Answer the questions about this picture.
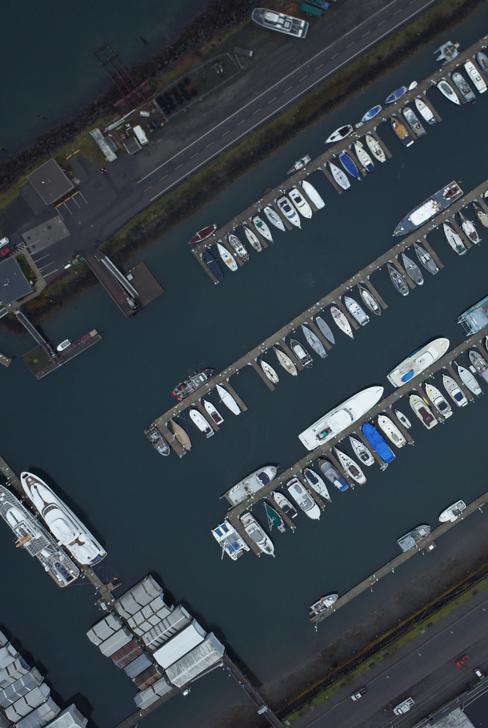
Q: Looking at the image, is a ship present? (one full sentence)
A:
Yes, looking at the shot, I can spot a ship.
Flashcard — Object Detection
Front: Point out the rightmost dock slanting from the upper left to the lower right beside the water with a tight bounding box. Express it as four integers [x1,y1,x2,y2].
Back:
[221,652,282,728]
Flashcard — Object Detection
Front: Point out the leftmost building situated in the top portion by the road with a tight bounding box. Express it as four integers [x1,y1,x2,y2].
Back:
[0,255,38,306]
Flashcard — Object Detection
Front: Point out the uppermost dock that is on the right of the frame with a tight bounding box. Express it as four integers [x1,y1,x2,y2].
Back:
[190,38,488,285]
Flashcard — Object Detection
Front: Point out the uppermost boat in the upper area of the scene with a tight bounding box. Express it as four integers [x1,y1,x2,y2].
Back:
[251,7,309,38]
